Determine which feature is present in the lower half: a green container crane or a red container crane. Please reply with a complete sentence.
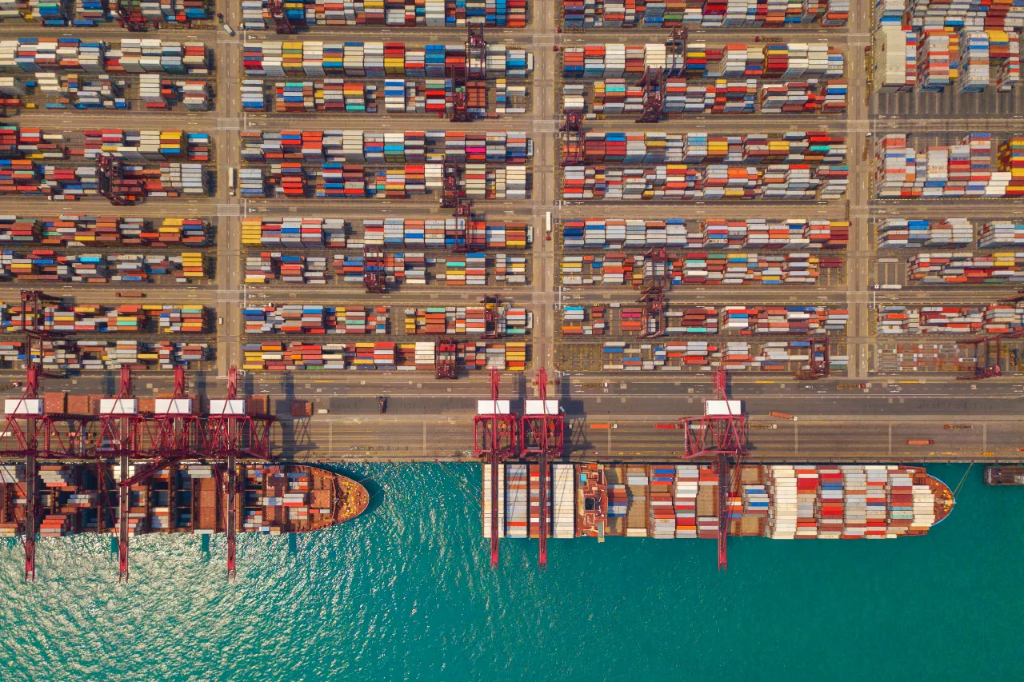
The feature located in the lower half is a red container crane.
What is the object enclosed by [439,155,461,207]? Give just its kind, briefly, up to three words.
container crane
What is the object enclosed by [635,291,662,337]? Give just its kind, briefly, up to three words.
container crane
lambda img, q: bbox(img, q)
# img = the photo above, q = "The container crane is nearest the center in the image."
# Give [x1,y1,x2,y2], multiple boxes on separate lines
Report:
[480,291,502,337]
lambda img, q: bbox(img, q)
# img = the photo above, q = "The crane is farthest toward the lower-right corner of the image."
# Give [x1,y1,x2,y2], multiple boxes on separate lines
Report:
[958,335,1001,380]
